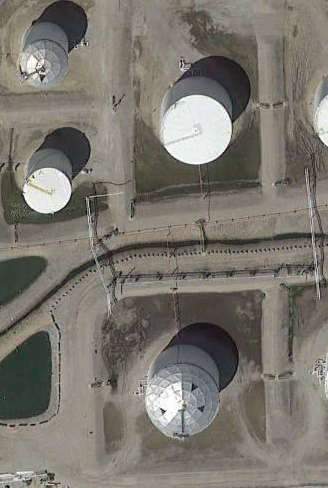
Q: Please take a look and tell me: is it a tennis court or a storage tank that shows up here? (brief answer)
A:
storage tank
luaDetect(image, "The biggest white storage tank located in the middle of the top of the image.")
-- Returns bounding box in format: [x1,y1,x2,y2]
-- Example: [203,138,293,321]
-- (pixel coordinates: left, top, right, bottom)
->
[160,76,234,165]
